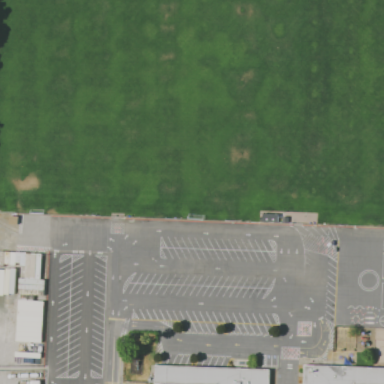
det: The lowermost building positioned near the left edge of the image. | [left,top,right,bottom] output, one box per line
[16,300,44,342]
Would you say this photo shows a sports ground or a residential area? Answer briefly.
sports ground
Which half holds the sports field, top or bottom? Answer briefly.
top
